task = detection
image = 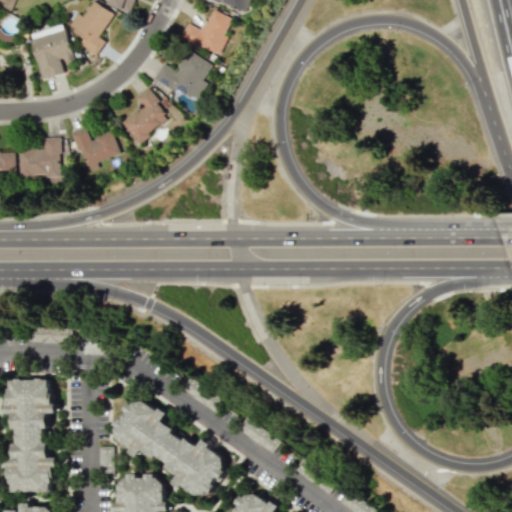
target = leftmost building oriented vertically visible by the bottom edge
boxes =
[1,380,54,493]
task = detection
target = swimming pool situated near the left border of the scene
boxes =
[1,14,20,34]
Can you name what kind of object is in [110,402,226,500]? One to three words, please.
building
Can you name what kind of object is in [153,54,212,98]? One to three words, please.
house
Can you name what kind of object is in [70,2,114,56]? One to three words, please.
house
